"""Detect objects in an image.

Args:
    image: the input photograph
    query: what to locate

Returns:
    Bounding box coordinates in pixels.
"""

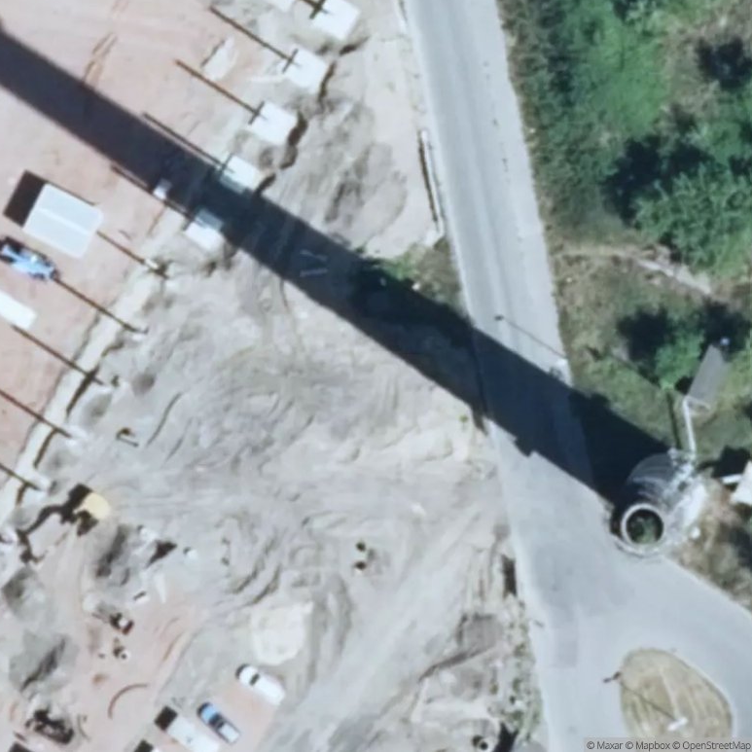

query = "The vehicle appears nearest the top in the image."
[0,233,61,282]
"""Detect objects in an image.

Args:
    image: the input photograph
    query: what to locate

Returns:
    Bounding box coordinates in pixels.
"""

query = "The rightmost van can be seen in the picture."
[230,659,289,712]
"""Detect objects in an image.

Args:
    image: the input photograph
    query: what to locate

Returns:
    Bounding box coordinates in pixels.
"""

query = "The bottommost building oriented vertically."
[729,461,752,513]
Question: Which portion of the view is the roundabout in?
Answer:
bottom right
